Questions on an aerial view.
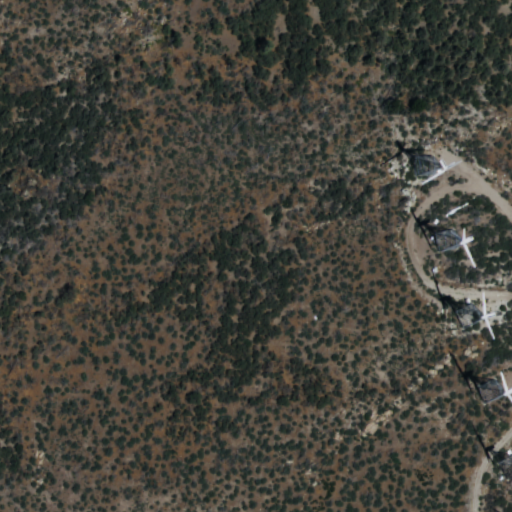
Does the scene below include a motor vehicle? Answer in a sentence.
No, the photo shows no motor vehicle.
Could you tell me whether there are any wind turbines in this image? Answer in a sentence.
Yes, looking at the shot, I can spot a wind turbine.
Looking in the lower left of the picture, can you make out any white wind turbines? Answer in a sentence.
No, there's no white wind turbine to be seen in the lower left of the picture.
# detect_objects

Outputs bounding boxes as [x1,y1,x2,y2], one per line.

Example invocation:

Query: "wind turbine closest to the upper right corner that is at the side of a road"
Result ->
[413,154,466,182]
